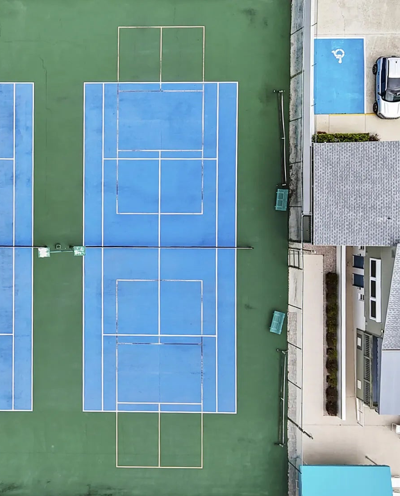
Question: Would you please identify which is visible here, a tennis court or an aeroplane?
tennis court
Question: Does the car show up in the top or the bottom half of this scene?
top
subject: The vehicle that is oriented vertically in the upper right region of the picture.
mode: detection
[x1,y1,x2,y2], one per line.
[372,55,400,120]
